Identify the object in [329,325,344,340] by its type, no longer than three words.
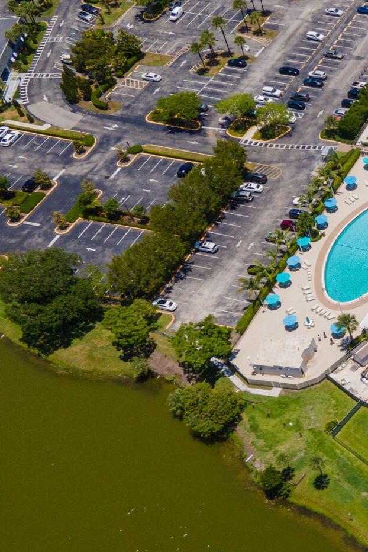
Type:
umbrella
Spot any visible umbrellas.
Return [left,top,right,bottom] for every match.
[276,275,291,289]
[315,217,328,231]
[329,325,344,340]
[283,316,297,330]
[286,258,301,271]
[297,238,310,252]
[265,295,280,310]
[323,200,336,213]
[344,178,357,191]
